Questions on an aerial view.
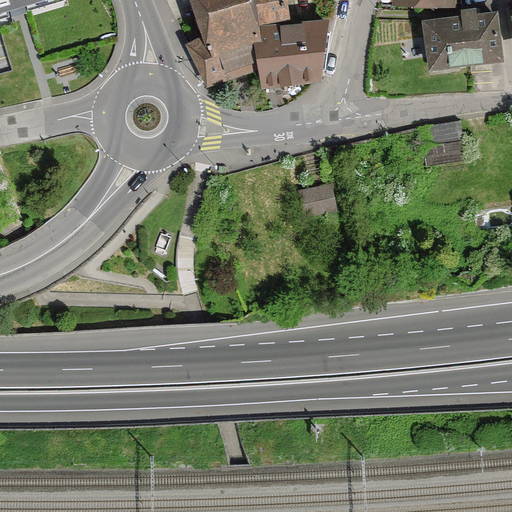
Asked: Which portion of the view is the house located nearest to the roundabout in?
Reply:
top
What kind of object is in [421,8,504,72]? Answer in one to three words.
house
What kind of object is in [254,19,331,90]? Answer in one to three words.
house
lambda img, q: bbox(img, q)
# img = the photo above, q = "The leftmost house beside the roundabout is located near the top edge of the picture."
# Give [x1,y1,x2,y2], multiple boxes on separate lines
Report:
[186,0,262,87]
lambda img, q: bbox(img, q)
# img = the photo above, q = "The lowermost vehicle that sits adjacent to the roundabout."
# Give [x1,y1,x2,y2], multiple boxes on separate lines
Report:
[128,171,149,192]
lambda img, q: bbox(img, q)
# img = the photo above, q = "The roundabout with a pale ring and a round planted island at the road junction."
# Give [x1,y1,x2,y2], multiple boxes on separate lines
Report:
[92,62,202,172]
